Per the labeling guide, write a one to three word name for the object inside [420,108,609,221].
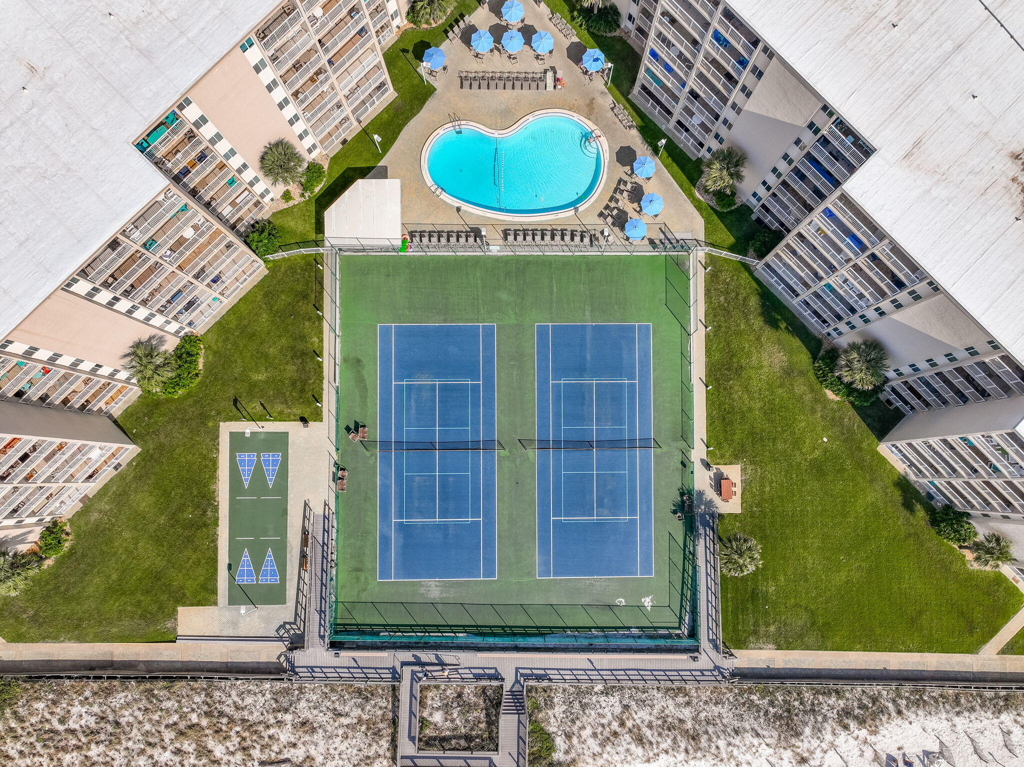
swimming pool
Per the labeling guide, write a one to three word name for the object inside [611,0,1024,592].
building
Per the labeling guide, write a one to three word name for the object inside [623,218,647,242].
umbrella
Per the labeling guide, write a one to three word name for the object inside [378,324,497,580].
tennis court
